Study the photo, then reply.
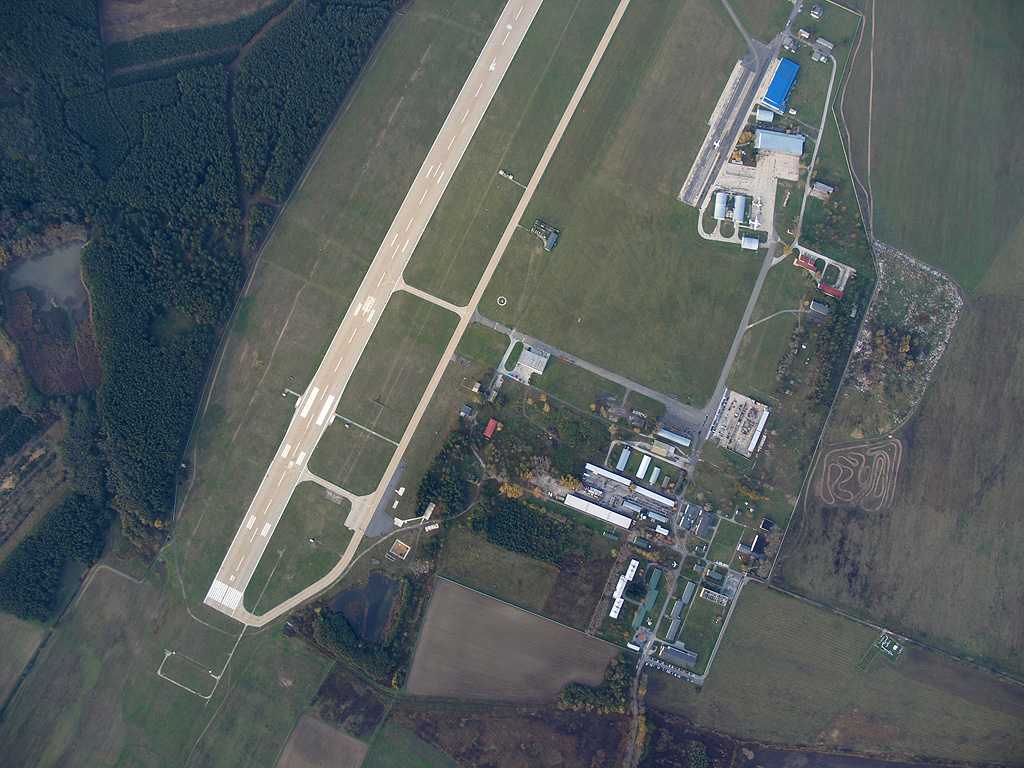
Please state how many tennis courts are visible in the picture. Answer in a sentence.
The count of tennis courts is 0.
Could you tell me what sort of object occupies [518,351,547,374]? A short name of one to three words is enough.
building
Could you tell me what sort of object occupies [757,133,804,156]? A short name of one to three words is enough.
hangar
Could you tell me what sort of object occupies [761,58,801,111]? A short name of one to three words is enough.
hangar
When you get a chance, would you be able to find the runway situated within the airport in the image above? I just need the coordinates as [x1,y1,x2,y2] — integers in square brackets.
[204,0,543,617]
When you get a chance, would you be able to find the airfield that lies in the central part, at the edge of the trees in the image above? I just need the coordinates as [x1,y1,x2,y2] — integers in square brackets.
[204,0,802,627]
